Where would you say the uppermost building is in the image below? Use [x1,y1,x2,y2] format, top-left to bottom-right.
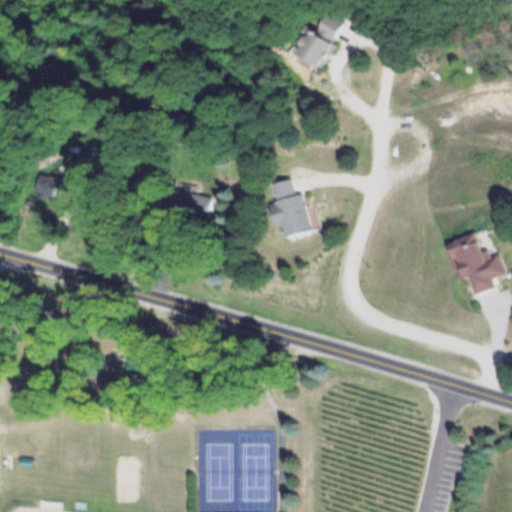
[294,14,346,72]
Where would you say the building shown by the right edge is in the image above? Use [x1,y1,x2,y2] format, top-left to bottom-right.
[447,238,512,294]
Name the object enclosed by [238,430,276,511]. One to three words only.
tennis court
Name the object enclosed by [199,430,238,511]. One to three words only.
tennis court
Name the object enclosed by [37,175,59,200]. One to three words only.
house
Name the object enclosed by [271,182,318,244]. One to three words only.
house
